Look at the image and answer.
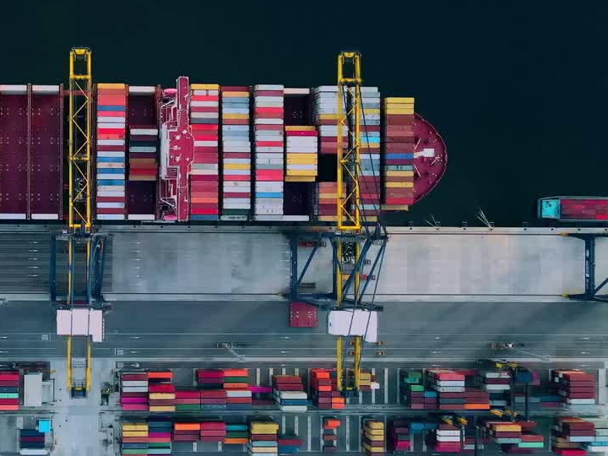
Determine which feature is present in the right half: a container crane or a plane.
container crane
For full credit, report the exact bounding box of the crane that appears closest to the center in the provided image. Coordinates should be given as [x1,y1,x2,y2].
[271,51,398,391]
